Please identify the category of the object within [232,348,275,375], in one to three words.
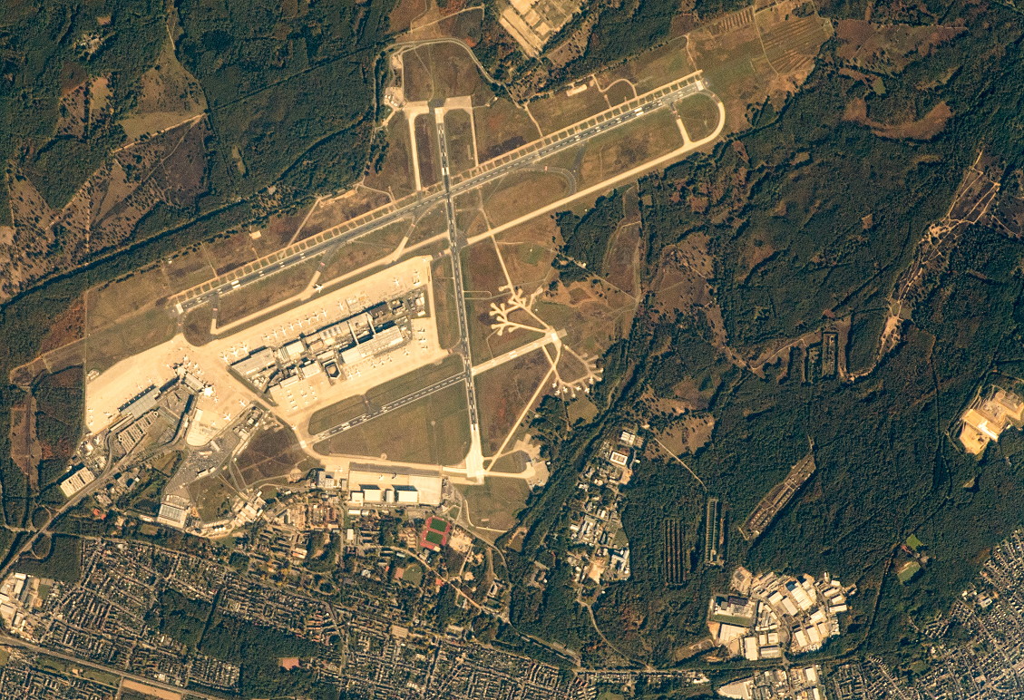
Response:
building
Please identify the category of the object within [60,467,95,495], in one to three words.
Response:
building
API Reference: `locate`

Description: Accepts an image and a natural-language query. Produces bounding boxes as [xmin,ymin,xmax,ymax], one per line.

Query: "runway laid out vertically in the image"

[435,107,484,485]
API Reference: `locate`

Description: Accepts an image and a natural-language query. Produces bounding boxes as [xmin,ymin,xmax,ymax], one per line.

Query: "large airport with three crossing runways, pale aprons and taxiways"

[85,53,726,506]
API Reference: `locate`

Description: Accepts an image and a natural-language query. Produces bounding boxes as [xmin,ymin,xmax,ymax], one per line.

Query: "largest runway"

[175,79,704,314]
